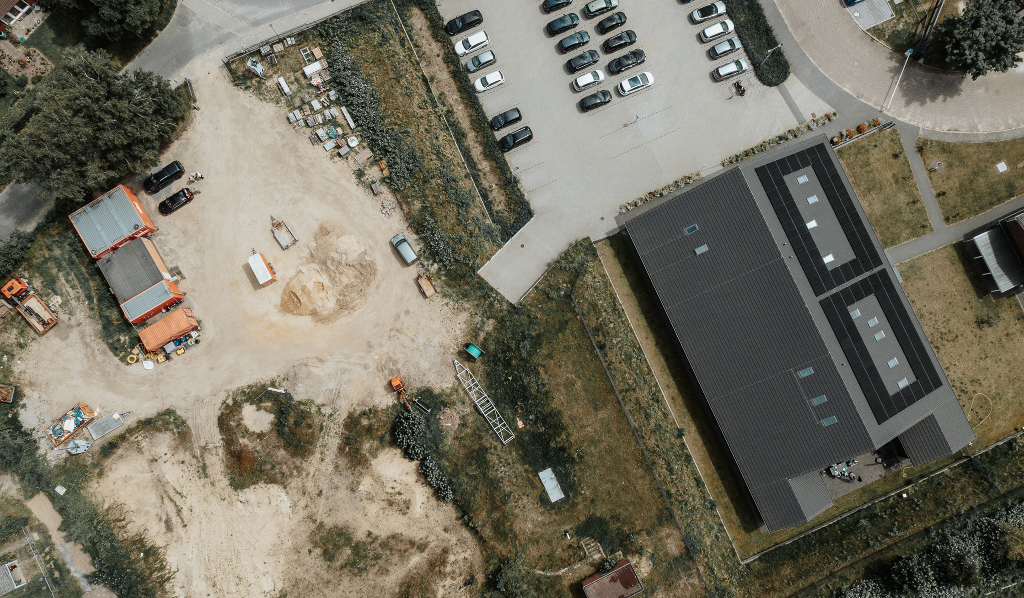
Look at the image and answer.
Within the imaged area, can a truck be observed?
Yes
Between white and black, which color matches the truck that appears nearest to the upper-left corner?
black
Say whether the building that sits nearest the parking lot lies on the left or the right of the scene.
right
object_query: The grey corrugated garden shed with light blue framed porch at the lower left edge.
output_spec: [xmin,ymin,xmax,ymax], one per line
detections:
[0,554,40,596]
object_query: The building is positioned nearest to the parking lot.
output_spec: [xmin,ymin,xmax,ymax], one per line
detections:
[625,133,977,533]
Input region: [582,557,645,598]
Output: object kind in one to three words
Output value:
shed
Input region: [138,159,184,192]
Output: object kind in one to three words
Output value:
truck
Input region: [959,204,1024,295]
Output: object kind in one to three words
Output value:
building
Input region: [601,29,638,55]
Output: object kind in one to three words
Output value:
car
